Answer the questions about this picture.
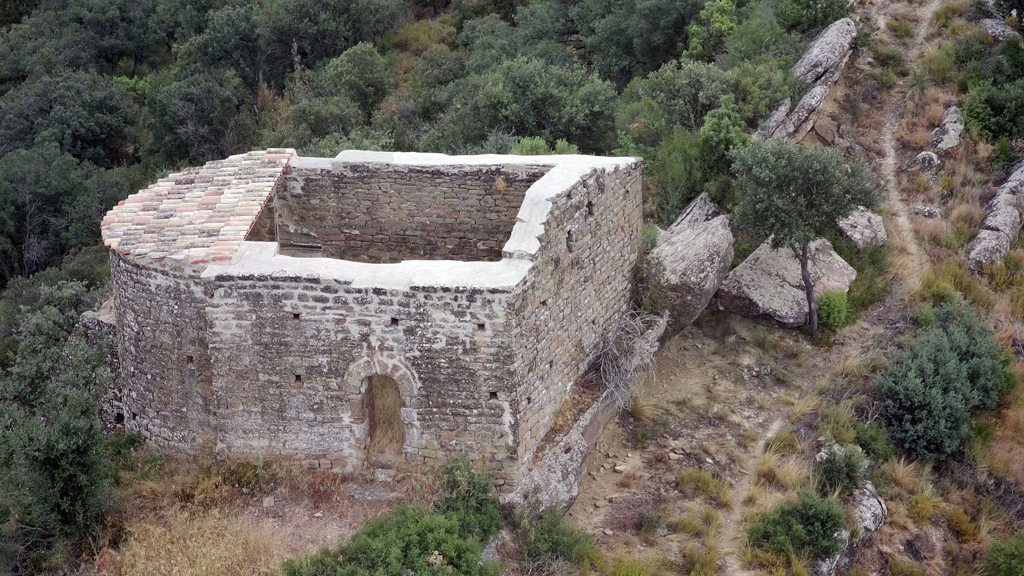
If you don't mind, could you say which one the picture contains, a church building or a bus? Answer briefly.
church building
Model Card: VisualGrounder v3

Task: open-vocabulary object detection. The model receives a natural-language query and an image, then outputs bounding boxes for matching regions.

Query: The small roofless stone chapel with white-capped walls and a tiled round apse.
[99,152,641,494]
